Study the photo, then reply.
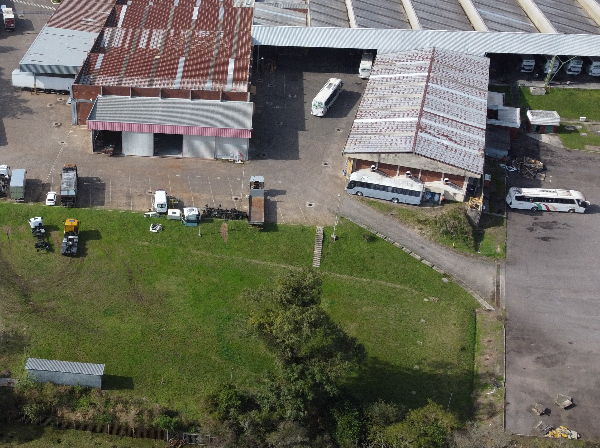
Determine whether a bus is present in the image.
Yes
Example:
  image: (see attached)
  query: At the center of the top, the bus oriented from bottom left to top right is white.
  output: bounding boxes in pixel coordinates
[312,73,349,112]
